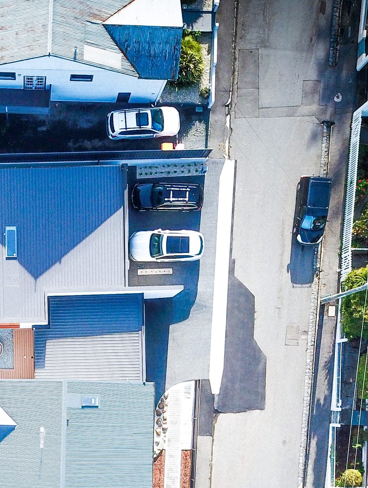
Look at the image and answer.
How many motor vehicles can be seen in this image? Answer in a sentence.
The photo contains 4 motor vehicles.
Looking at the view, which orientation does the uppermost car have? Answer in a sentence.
The uppermost car is laid out from side to side.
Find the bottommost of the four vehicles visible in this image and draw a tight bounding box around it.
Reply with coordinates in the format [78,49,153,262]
[128,227,201,264]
